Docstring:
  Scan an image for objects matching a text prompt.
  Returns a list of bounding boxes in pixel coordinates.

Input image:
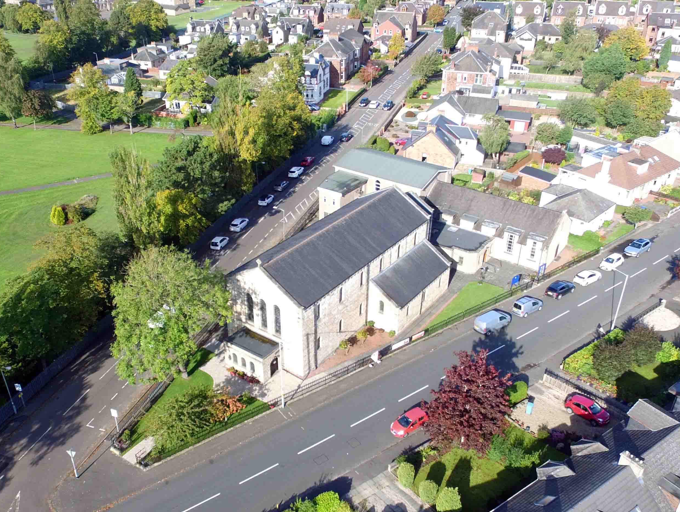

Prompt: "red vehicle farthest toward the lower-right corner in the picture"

[566,392,610,422]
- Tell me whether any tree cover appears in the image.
Yes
